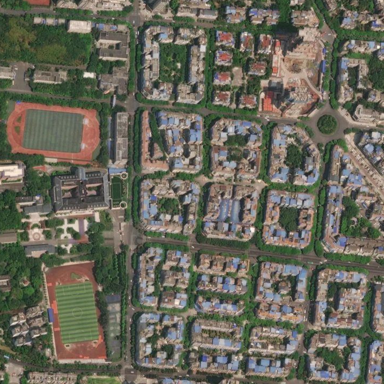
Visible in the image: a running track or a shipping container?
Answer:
running track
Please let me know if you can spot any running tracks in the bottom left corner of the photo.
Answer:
Yes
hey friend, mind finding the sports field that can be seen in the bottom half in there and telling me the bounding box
[56,282,99,343]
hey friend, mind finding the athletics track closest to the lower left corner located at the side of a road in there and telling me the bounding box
[46,262,106,359]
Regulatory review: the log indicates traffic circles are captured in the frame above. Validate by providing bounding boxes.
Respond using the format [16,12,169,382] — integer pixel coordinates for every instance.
[308,105,348,143]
